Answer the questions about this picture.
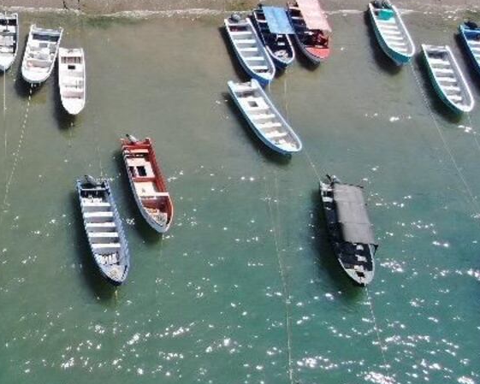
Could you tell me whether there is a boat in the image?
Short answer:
Yes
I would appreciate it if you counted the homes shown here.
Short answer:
0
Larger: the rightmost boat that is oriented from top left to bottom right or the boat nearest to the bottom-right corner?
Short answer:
the boat nearest to the bottom-right corner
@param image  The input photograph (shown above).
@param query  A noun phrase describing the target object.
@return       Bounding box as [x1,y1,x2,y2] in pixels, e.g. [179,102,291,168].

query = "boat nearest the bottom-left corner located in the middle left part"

[78,171,128,285]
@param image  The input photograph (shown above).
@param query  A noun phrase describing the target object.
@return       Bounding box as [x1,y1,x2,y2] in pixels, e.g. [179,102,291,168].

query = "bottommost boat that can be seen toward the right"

[311,173,375,286]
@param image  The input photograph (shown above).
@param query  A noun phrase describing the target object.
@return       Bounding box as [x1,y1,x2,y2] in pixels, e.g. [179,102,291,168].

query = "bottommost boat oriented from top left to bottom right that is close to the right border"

[418,44,474,116]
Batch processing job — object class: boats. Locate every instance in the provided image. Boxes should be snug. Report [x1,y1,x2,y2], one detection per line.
[287,0,332,63]
[22,26,61,85]
[122,136,174,232]
[224,13,277,81]
[253,6,296,65]
[366,0,415,64]
[78,171,128,285]
[418,44,474,116]
[228,80,299,154]
[0,14,19,72]
[311,173,375,286]
[458,20,480,82]
[58,48,87,116]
